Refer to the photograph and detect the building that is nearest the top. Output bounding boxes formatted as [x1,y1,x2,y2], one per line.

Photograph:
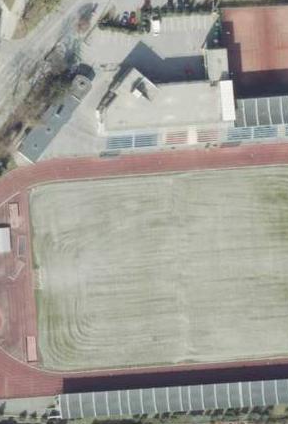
[197,48,229,80]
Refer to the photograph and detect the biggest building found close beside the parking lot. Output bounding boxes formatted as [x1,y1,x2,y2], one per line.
[88,67,220,131]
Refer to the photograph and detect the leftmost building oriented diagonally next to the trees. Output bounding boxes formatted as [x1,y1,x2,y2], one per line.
[14,95,79,163]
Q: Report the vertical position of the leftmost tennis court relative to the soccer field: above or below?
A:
above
